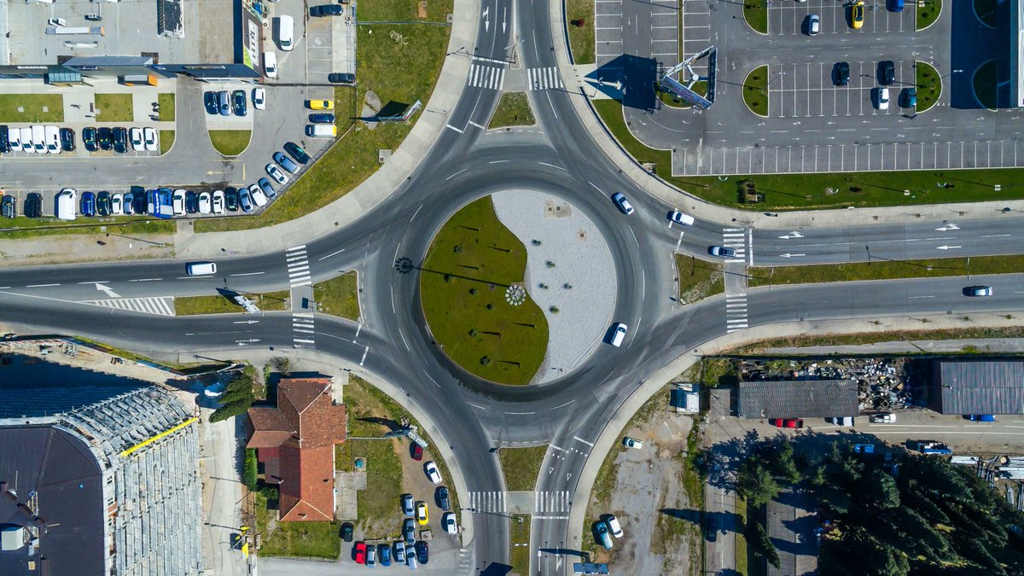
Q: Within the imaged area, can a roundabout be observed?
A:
Yes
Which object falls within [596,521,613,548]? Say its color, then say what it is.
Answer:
blue car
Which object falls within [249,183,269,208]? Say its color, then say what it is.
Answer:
white car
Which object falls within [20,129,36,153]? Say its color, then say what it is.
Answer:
white vehicle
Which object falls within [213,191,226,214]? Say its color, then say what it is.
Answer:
white vehicle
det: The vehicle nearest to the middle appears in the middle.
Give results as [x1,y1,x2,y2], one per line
[610,321,627,347]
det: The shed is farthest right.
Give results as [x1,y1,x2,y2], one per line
[923,357,1024,415]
